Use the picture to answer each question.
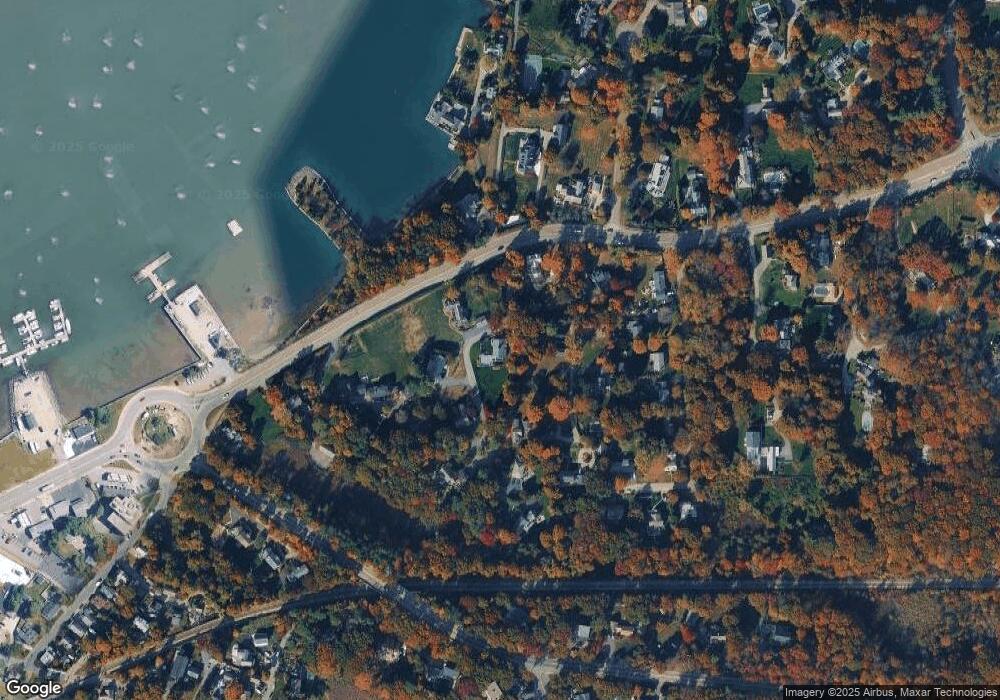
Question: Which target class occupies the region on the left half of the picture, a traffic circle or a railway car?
traffic circle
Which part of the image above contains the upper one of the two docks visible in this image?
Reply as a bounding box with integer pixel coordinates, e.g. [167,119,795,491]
[133,252,176,305]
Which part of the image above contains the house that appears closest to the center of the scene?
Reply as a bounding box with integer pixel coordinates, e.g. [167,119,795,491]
[479,337,506,369]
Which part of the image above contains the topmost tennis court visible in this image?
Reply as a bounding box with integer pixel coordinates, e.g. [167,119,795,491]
[524,56,542,92]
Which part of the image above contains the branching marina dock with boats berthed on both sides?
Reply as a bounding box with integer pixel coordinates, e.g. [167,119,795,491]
[0,297,67,376]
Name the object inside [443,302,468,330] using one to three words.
house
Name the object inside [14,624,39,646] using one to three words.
house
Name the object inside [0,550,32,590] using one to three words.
building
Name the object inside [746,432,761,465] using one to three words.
barn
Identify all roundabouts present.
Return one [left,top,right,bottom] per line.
[120,389,204,472]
